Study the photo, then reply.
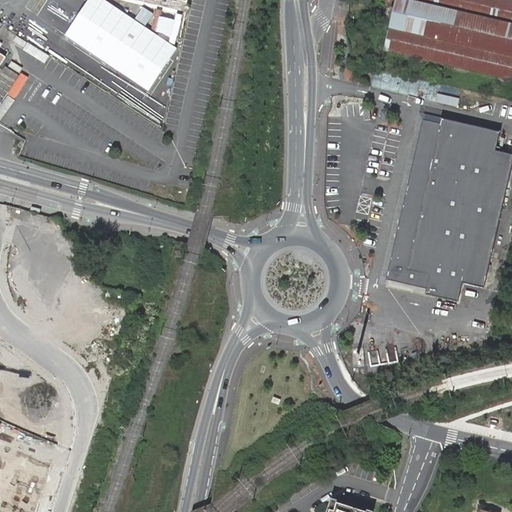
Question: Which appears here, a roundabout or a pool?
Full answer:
This aerial view contains a roundabout.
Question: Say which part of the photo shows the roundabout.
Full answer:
The roundabout appears toward the center of the photo.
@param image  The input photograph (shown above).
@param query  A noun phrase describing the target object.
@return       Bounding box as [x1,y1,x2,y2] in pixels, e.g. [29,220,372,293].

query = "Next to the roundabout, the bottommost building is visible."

[385,119,512,301]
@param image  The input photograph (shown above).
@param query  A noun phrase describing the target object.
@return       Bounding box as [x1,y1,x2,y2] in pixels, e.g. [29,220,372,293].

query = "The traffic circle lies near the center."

[242,228,349,334]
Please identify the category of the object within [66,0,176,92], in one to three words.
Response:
building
